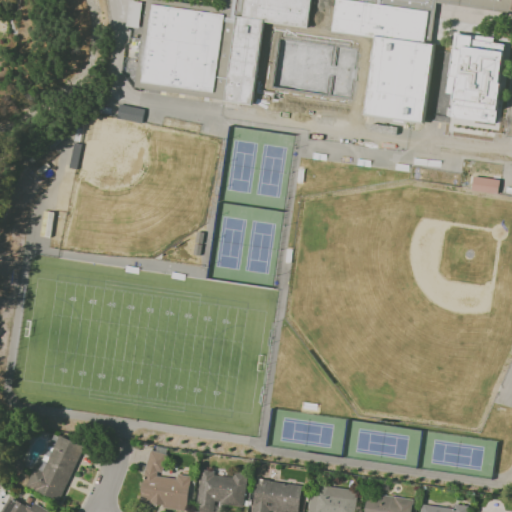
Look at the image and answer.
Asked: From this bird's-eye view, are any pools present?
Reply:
Yes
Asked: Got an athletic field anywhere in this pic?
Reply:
Yes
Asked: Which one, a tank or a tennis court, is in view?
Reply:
tennis court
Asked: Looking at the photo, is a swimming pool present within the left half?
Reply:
Yes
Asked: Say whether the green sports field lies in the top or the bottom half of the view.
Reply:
bottom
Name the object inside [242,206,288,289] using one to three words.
tennis court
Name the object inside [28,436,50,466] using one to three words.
swimming pool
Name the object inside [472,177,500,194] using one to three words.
building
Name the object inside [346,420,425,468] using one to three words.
tennis court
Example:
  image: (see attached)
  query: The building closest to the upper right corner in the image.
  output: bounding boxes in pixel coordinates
[444,32,504,125]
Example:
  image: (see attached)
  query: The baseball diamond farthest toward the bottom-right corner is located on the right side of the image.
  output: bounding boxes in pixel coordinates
[290,188,512,428]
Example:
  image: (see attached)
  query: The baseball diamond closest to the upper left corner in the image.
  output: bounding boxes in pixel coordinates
[66,116,221,262]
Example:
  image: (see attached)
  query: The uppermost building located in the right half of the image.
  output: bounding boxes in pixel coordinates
[330,0,430,42]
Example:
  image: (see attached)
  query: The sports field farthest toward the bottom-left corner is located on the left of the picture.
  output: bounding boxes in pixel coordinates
[17,254,276,436]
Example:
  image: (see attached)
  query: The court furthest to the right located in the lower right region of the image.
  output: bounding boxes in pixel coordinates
[422,432,499,479]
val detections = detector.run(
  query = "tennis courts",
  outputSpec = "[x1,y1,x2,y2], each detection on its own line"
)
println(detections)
[346,420,425,468]
[207,200,255,284]
[222,126,264,205]
[268,408,348,457]
[422,432,499,479]
[242,206,288,289]
[255,130,298,210]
